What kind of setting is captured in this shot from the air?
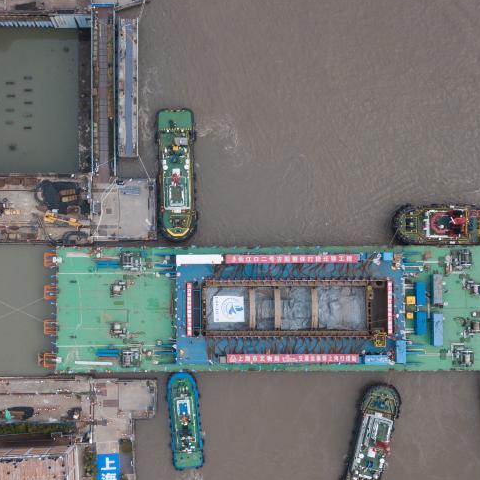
port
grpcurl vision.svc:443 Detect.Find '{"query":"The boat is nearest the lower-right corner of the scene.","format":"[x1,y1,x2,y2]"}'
[342,384,403,480]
